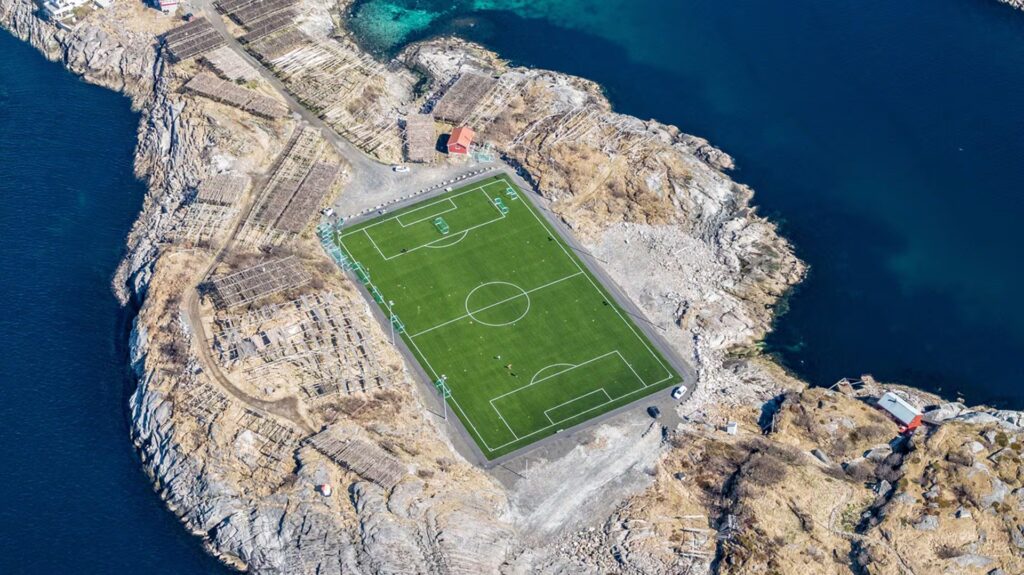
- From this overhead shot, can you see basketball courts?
No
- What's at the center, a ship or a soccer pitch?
soccer pitch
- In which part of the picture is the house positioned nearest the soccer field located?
top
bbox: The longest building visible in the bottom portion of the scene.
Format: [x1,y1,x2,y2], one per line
[878,393,924,433]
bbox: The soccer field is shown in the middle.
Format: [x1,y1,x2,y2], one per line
[328,173,683,460]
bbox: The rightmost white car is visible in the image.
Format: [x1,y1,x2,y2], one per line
[674,385,687,398]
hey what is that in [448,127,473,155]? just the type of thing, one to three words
house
